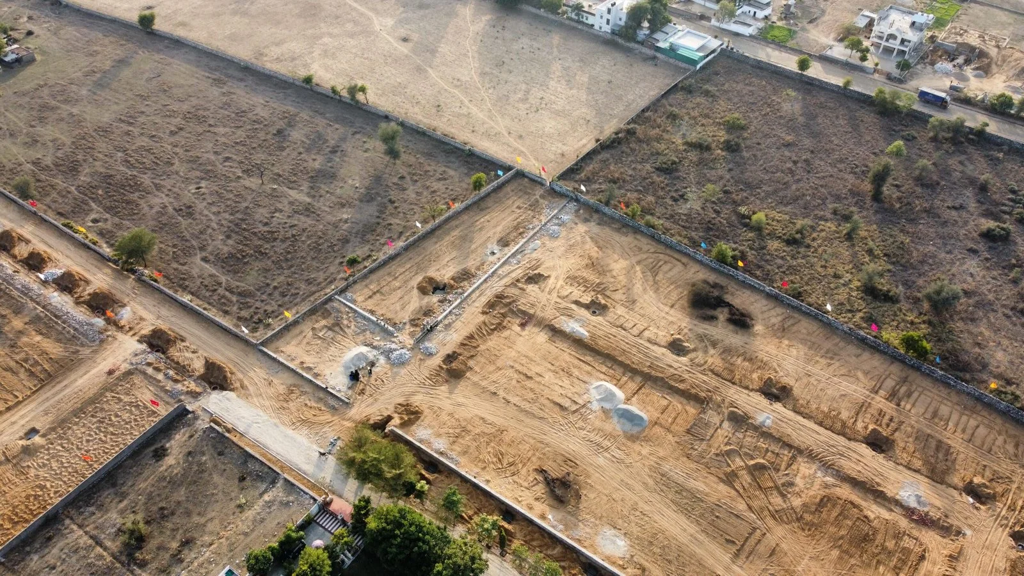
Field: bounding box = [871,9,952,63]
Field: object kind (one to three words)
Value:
house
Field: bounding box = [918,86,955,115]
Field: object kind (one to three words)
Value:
truck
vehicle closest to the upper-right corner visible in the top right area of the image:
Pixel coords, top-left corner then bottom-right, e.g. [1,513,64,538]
[951,82,970,94]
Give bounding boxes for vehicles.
[317,447,330,459]
[918,86,955,115]
[951,82,970,94]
